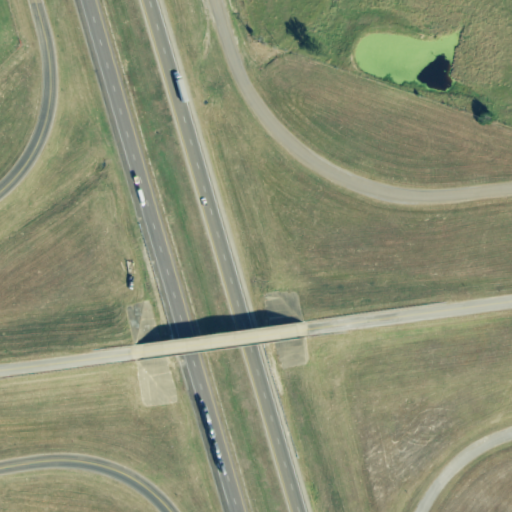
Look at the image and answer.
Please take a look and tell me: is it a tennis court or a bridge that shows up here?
bridge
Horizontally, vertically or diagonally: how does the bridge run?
horizontally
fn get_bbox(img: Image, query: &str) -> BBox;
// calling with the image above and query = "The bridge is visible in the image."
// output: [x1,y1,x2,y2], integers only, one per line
[132,322,310,361]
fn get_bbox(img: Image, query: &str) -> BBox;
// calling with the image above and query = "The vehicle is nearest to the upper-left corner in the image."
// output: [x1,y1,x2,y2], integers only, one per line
[172,70,188,103]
